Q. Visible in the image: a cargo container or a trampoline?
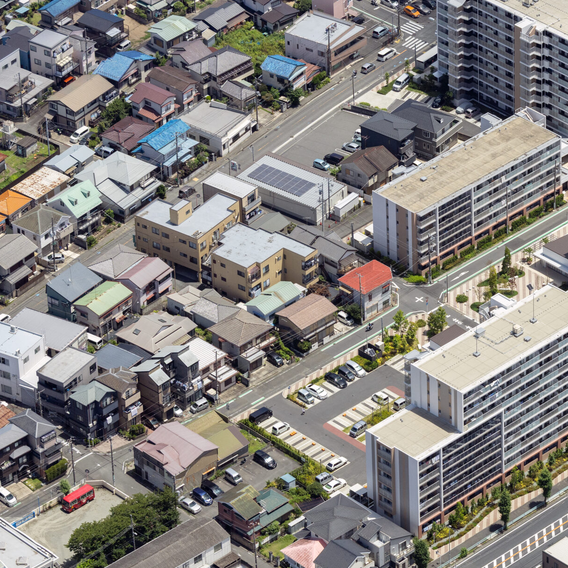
cargo container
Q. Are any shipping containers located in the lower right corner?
No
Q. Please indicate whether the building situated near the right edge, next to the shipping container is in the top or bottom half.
top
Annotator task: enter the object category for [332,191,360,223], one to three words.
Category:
shipping container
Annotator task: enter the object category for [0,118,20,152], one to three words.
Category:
water tower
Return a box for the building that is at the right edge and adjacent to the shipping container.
[362,114,560,274]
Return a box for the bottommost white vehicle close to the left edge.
[0,489,19,506]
